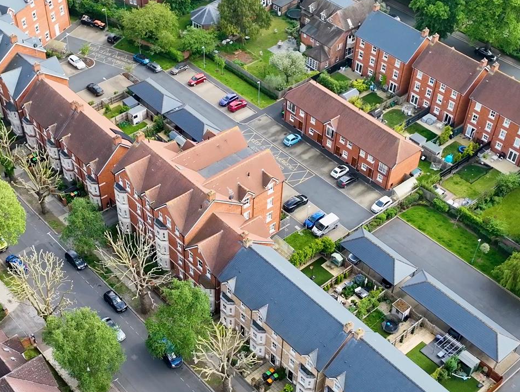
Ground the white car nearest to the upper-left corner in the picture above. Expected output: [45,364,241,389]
[69,54,87,70]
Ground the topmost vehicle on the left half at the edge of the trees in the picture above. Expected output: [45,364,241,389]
[105,33,126,46]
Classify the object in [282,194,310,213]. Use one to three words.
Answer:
car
